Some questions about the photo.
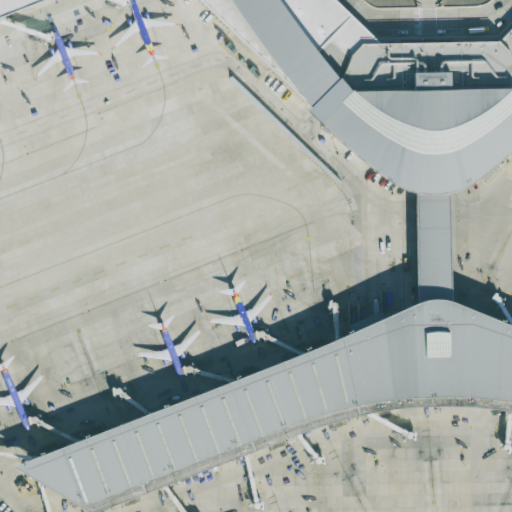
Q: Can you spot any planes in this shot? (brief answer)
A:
Yes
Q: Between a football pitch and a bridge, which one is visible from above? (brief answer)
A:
bridge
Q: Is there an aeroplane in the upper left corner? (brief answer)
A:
Yes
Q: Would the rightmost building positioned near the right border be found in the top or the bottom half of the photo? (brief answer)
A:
top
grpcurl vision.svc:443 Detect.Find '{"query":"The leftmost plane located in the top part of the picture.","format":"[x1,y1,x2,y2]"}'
[37,28,100,90]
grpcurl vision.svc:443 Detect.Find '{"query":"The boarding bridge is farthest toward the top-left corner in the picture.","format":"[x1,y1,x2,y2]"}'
[0,18,54,41]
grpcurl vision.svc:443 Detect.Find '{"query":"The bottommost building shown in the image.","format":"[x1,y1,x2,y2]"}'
[16,300,512,511]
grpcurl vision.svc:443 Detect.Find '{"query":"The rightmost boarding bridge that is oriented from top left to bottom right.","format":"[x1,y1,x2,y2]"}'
[491,292,512,324]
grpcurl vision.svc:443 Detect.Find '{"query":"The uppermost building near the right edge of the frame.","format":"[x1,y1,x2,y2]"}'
[311,78,512,194]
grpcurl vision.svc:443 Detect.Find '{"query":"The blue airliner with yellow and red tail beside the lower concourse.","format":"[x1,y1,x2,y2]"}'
[209,282,270,344]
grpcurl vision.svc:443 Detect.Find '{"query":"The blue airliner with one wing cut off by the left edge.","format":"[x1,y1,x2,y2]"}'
[0,368,44,430]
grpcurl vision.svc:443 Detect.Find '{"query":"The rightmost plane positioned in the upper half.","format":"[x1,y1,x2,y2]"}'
[115,0,177,66]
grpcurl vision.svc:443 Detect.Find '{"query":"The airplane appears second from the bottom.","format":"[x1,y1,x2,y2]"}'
[137,316,199,378]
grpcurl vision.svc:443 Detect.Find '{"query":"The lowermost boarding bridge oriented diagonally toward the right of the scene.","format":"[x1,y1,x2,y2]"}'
[298,435,326,466]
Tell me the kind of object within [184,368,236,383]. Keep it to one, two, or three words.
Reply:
jet bridge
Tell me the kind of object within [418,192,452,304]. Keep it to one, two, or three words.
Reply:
bridge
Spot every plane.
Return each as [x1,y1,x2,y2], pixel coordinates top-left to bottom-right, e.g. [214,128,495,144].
[115,0,177,66]
[137,316,199,378]
[37,28,100,90]
[209,282,270,344]
[0,368,44,430]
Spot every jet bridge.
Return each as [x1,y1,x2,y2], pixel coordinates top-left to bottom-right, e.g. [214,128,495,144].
[246,455,262,512]
[369,414,419,440]
[328,304,340,340]
[491,292,512,324]
[110,385,153,414]
[109,0,132,8]
[28,419,76,445]
[502,412,512,456]
[184,368,236,383]
[0,450,40,460]
[254,332,306,354]
[298,435,326,466]
[162,486,187,512]
[0,18,54,41]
